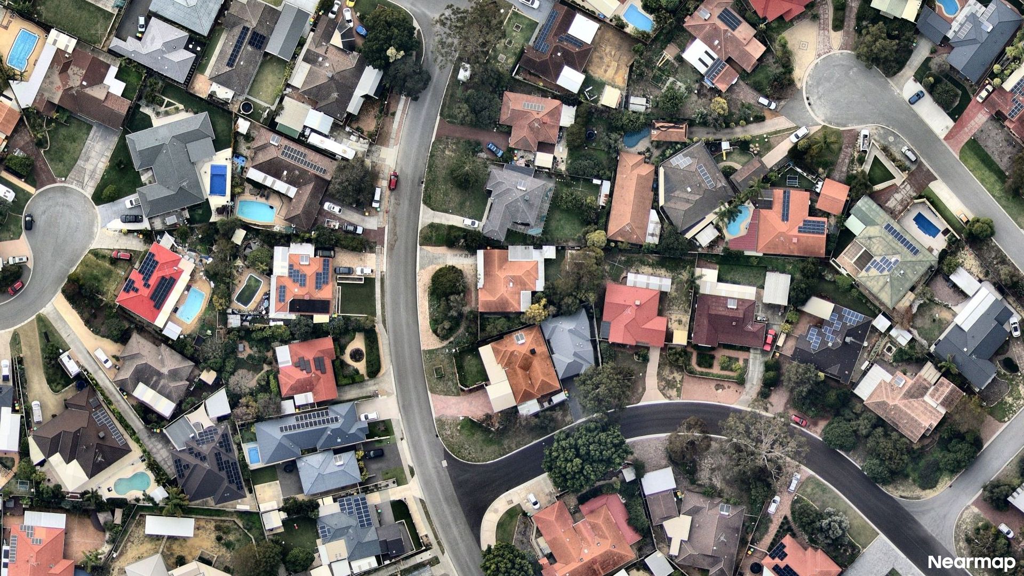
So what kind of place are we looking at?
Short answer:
residential area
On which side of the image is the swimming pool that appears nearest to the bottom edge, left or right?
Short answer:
left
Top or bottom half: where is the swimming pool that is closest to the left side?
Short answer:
top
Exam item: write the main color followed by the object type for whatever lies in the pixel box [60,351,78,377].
white camper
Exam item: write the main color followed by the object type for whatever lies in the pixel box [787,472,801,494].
white car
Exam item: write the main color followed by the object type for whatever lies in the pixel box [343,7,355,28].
white vehicle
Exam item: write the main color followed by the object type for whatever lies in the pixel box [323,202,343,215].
white vehicle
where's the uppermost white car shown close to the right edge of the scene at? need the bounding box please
[976,84,994,103]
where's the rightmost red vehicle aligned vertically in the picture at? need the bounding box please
[764,328,776,352]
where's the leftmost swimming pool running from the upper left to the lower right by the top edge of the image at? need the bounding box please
[623,4,652,31]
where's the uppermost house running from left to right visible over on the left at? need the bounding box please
[147,0,225,35]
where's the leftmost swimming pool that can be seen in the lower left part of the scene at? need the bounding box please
[114,471,152,496]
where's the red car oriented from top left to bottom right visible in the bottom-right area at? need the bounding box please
[790,413,809,429]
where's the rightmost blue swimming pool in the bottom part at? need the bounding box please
[247,446,260,464]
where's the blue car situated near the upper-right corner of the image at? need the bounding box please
[908,90,926,105]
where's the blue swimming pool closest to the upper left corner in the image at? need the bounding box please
[6,28,40,72]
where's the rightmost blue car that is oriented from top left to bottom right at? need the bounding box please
[485,141,504,159]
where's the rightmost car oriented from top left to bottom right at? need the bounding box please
[998,522,1015,539]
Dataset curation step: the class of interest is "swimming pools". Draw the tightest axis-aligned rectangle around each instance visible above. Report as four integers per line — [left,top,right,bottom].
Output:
[623,4,652,31]
[233,274,264,308]
[913,212,941,238]
[247,446,260,464]
[624,130,645,149]
[176,287,206,324]
[237,200,276,223]
[114,471,152,496]
[727,205,752,237]
[939,0,960,17]
[209,164,227,196]
[6,28,40,72]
